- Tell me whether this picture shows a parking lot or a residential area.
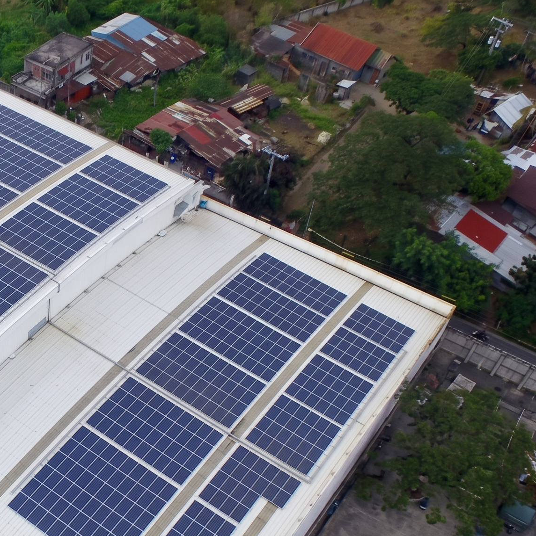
residential area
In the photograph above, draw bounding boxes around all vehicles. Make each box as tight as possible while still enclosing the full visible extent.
[493,500,536,528]
[472,331,490,340]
